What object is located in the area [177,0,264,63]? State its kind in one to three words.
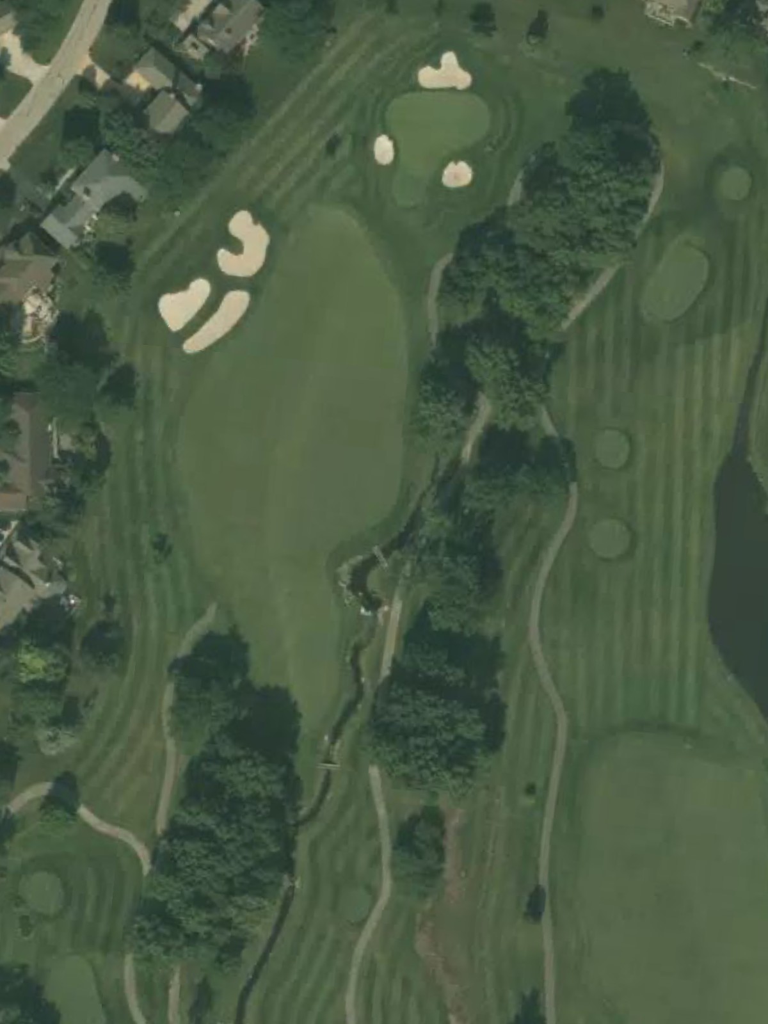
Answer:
house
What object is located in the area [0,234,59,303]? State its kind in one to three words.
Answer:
house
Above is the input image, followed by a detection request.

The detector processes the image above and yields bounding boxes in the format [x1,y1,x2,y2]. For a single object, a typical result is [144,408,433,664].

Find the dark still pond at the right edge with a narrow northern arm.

[709,318,768,726]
